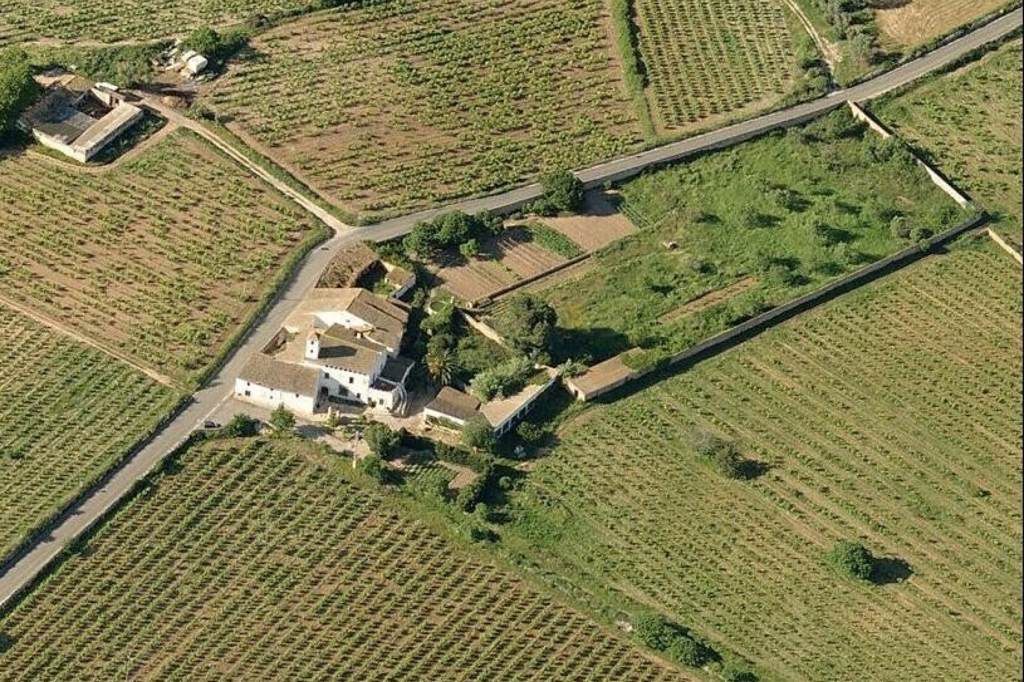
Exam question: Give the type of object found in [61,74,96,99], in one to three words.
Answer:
shed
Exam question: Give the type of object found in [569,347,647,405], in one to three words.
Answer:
shed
